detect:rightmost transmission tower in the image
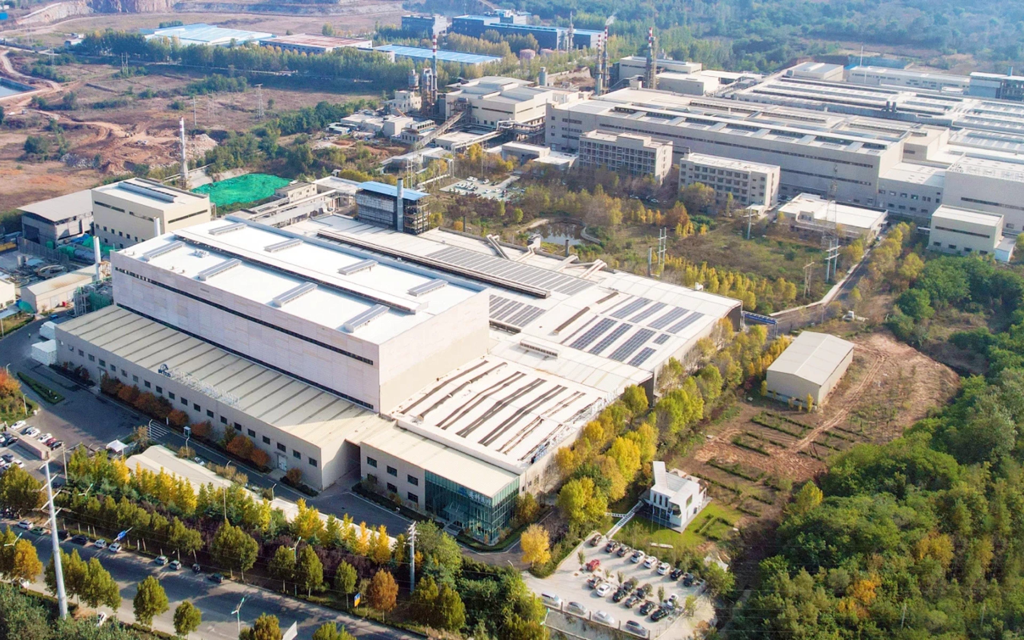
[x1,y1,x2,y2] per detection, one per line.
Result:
[254,83,266,118]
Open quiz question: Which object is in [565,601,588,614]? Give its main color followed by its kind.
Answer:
gray vehicle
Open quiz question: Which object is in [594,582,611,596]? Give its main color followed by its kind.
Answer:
white car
